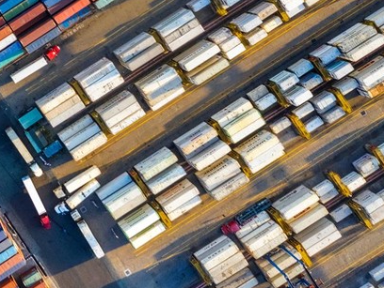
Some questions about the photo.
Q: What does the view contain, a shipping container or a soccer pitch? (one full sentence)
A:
Visible in the photo is a shipping container.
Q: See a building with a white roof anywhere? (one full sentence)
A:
No, no building with a white roof is visible in the scene.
